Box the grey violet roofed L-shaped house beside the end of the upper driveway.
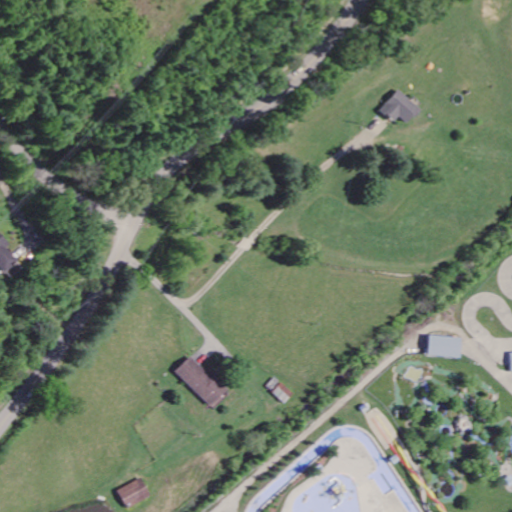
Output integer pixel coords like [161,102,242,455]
[380,85,420,124]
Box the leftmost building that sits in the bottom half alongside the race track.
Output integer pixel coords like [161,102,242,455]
[428,334,462,358]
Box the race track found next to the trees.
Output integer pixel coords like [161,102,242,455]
[462,256,512,372]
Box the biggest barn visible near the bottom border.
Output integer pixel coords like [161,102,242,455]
[116,478,149,507]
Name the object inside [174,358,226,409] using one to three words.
house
